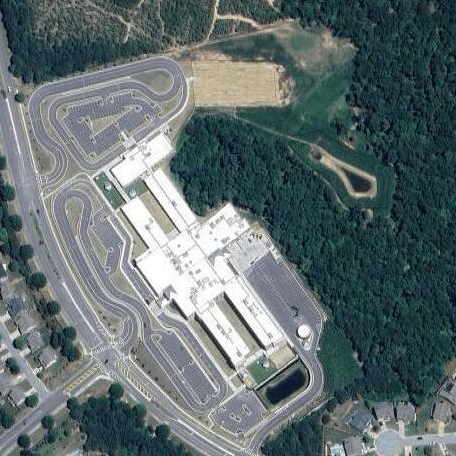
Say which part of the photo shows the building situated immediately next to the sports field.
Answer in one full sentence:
You can find the building situated immediately next to the sports field in the center area of the picture.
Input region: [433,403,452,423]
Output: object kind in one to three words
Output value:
house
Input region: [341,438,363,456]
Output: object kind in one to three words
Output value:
house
